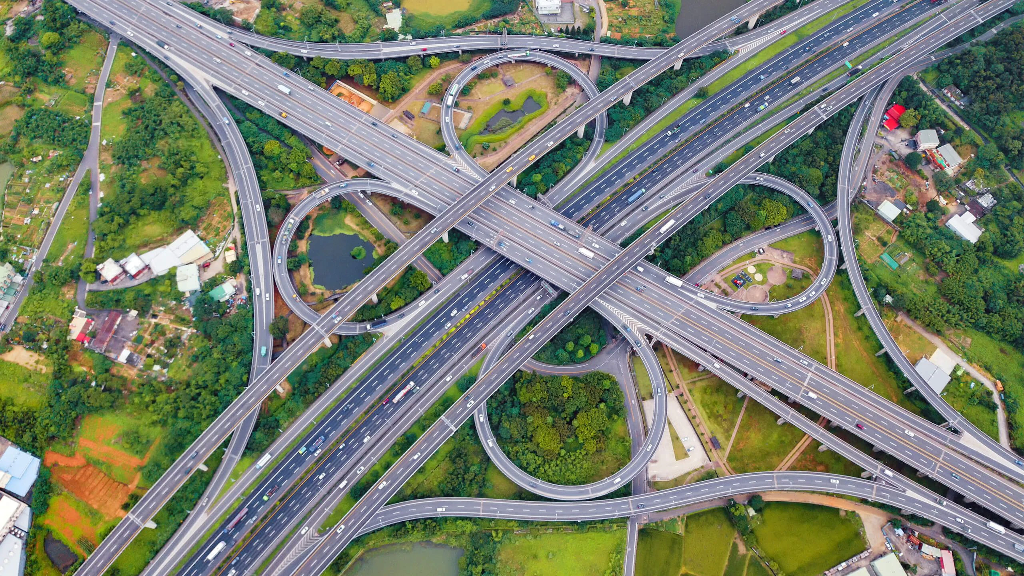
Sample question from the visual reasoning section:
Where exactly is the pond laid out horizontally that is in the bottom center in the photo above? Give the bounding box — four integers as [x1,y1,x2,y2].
[351,539,462,576]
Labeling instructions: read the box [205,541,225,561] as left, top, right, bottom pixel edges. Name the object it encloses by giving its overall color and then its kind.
white bus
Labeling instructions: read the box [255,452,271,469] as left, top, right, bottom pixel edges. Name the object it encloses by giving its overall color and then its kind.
white vehicle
